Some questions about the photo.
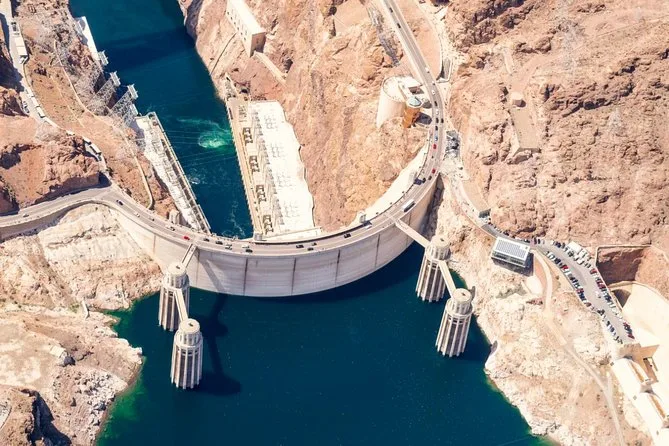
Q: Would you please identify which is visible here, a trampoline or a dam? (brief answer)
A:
dam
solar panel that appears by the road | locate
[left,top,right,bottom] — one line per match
[494,238,528,258]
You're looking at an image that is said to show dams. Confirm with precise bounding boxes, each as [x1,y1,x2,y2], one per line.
[105,140,447,298]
